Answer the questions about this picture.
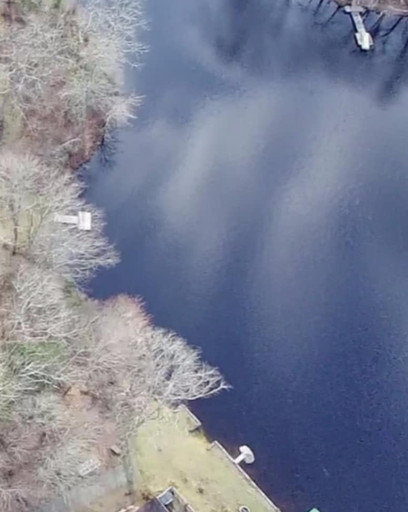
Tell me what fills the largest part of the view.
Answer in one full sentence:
The largest share of the image is taken up by water.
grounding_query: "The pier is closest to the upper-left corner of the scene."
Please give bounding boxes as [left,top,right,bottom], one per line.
[55,212,93,232]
